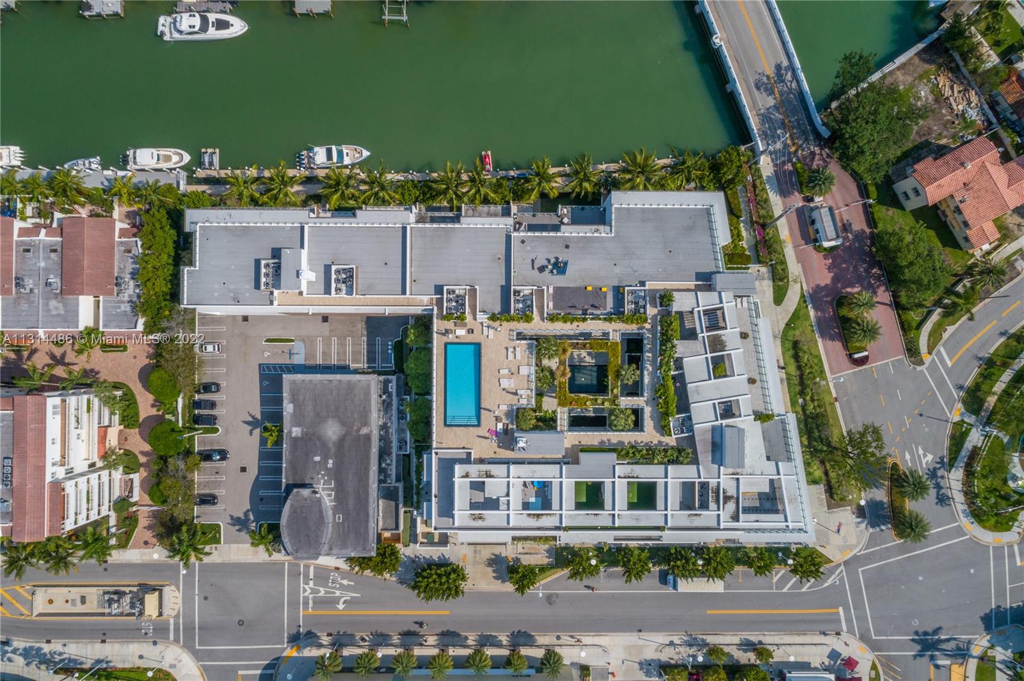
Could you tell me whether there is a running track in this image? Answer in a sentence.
No, I can see no running track in this picture.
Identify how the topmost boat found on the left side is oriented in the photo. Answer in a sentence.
The topmost boat found on the left side is oriented from side to side.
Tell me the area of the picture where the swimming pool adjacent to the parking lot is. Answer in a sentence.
Look in the center portion of the view to spot the swimming pool adjacent to the parking lot.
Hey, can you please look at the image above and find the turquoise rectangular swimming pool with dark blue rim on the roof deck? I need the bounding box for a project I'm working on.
[444,342,480,427]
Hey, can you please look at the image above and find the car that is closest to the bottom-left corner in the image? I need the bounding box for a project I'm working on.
[196,495,219,507]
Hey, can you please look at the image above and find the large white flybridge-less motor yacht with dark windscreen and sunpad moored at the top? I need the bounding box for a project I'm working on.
[158,12,248,41]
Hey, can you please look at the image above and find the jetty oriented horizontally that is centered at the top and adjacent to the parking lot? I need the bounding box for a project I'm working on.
[195,153,682,182]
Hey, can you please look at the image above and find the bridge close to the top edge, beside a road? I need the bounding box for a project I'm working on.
[694,0,831,154]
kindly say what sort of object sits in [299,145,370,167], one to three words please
boat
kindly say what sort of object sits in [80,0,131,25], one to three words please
pier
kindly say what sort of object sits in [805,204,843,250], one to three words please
building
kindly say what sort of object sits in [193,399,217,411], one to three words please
vehicle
